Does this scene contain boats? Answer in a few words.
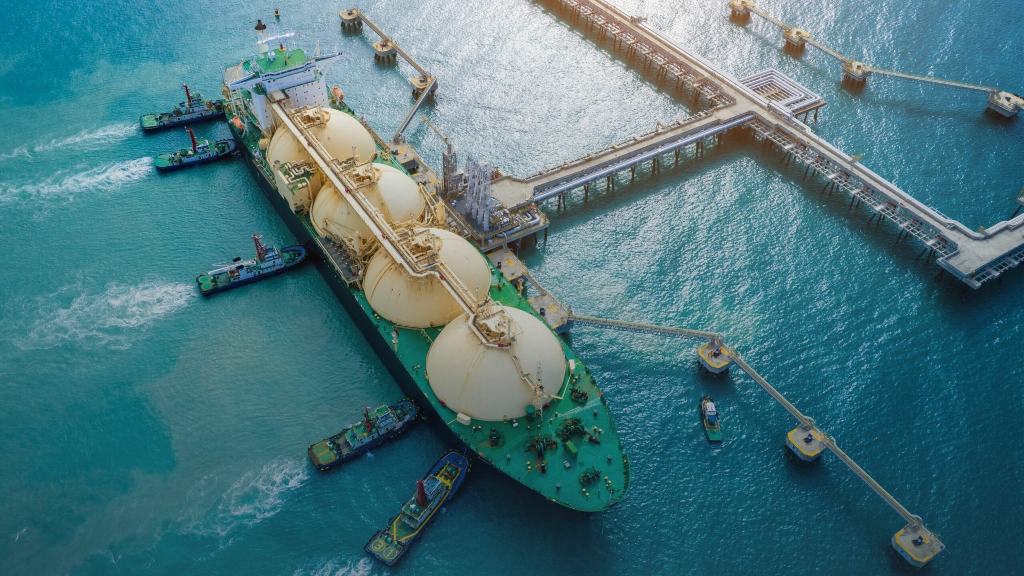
Yes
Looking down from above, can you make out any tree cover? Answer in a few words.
No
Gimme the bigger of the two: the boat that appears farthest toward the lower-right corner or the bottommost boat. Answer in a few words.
the bottommost boat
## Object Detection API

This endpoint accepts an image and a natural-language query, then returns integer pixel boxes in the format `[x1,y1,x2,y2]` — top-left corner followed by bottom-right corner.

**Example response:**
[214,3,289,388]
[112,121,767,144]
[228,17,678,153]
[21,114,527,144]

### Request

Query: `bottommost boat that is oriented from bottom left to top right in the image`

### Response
[363,449,467,569]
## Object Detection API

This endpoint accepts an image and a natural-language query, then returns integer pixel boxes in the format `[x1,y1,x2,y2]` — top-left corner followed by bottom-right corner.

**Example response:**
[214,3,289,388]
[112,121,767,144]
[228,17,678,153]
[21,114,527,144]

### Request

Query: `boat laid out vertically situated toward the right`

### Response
[702,393,726,442]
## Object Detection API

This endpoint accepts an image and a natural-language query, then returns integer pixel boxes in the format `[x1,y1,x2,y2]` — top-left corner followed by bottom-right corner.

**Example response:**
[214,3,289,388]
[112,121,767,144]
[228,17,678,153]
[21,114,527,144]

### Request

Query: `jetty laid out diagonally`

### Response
[556,0,1024,300]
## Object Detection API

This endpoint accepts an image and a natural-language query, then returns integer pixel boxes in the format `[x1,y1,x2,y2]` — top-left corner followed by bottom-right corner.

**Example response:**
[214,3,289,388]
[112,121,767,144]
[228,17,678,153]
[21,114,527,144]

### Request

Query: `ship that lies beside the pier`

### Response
[219,18,629,525]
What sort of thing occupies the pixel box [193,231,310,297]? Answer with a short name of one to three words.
boat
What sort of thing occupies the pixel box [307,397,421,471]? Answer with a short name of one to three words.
boat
